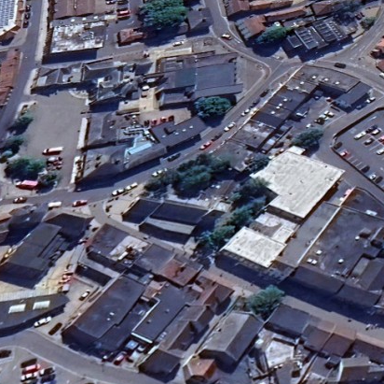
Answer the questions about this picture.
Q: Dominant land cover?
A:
buildings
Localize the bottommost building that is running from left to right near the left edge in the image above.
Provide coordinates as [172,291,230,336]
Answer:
[0,294,74,336]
